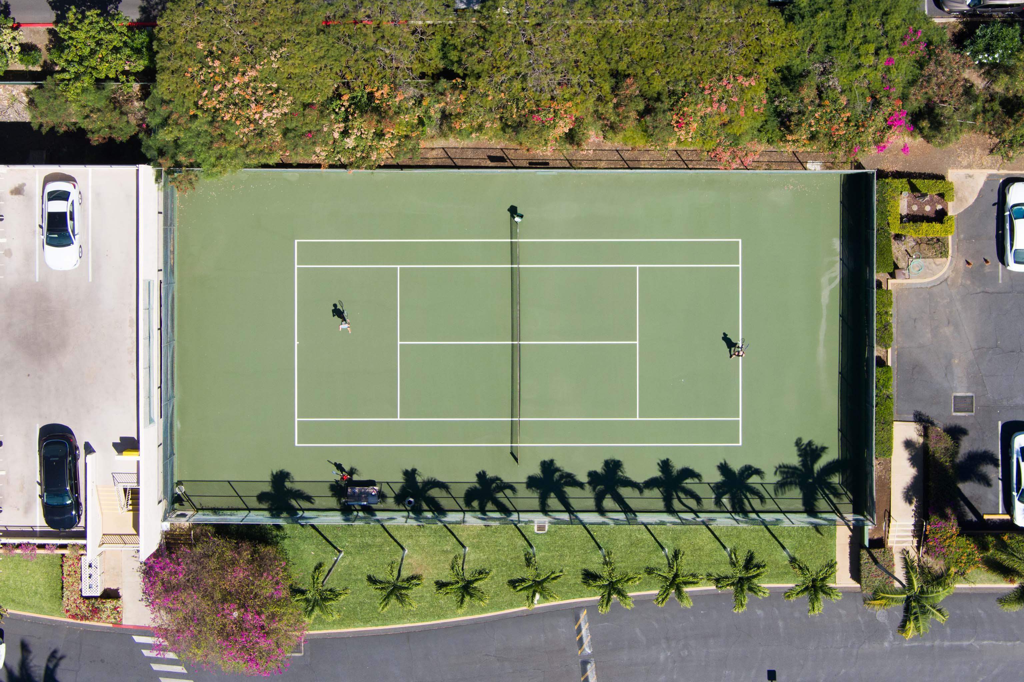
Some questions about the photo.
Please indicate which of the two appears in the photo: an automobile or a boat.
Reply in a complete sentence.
Of the two, only an automobile appears.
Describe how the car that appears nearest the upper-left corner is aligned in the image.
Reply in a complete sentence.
What the image shows is the car that appears nearest the upper-left corner lying vertically.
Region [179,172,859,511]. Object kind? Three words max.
tennis court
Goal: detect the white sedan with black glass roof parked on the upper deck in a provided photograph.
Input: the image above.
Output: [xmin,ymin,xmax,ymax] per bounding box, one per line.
[34,177,81,270]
